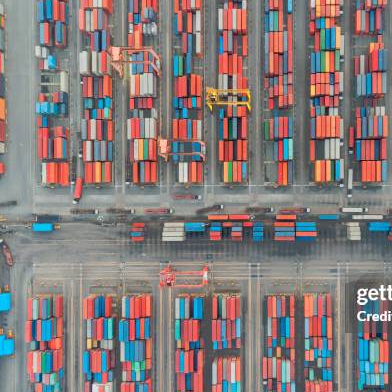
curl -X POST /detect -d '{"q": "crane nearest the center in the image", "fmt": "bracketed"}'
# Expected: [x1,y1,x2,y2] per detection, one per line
[155,139,207,161]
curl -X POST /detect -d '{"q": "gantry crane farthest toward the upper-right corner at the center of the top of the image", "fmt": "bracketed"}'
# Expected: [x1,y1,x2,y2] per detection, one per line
[204,88,250,114]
